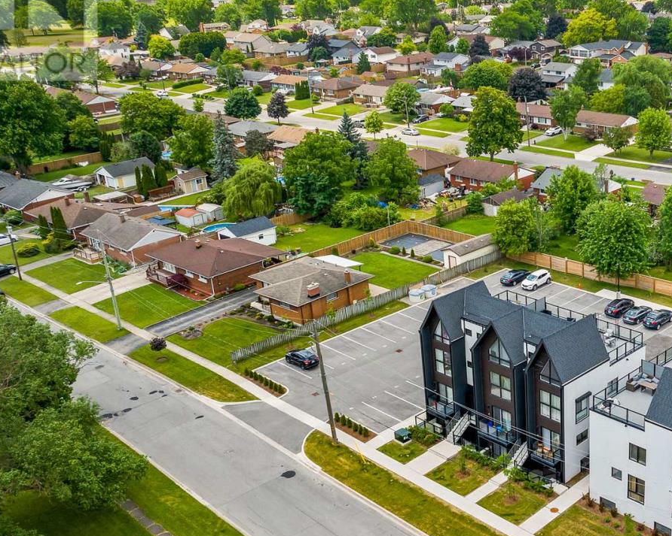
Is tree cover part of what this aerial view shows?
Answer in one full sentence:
Yes, the picture does contain tree cover.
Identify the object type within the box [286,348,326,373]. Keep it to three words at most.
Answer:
car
